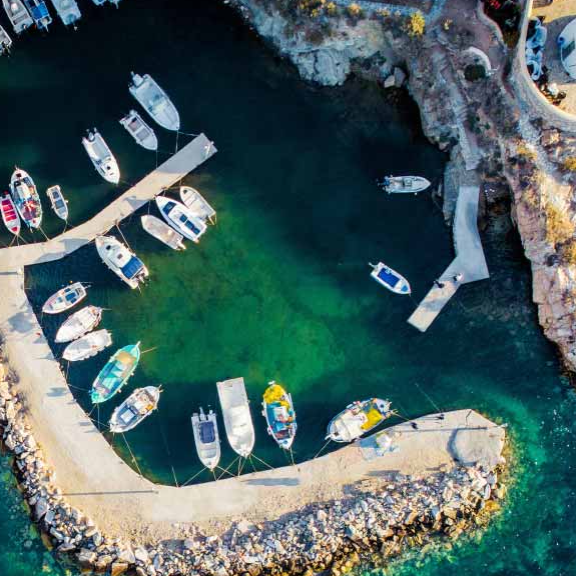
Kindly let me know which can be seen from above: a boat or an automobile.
boat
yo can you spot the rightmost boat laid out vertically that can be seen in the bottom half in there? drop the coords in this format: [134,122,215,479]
[264,382,299,452]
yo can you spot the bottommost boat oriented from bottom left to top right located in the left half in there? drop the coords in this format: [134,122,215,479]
[109,388,159,431]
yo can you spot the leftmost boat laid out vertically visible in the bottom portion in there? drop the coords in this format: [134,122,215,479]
[195,410,220,470]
